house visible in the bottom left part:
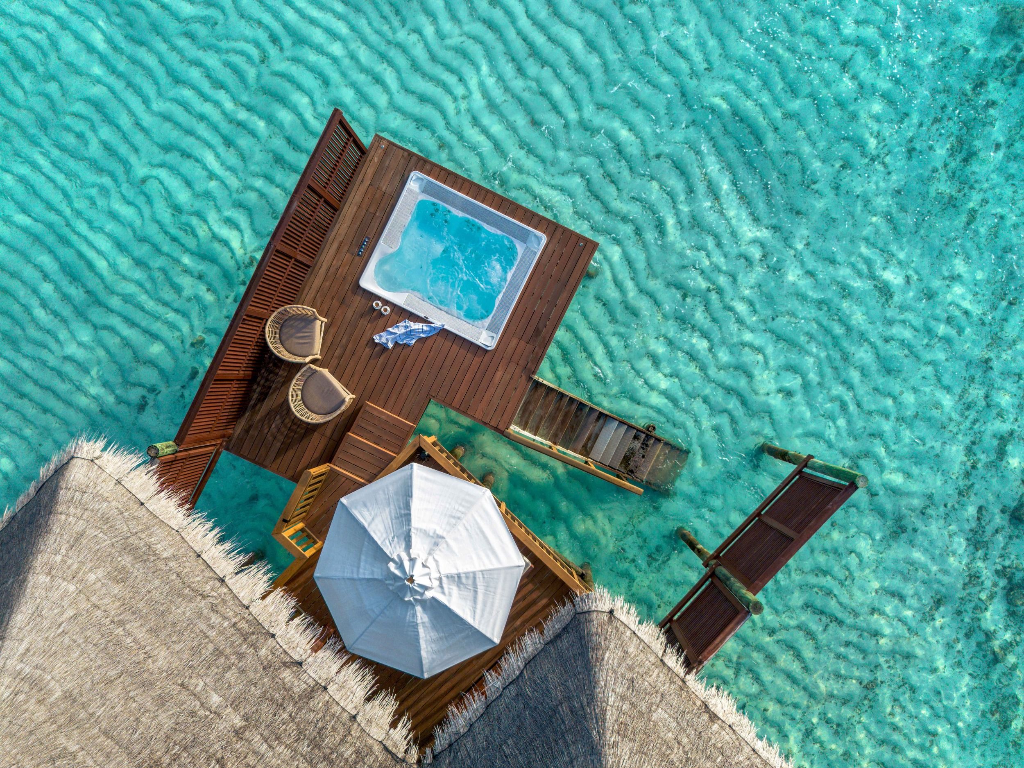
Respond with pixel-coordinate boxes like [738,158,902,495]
[0,423,428,768]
